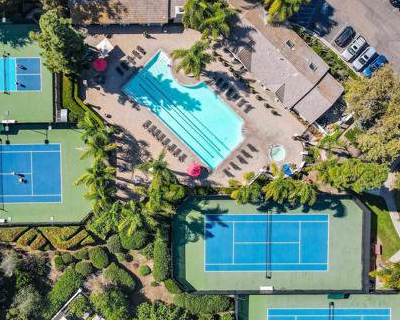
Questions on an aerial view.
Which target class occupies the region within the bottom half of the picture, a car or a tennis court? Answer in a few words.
tennis court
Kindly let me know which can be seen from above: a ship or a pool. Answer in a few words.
pool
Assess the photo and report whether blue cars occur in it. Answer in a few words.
Yes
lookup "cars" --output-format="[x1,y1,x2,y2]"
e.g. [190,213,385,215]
[333,24,357,48]
[365,53,388,72]
[342,36,368,61]
[389,0,400,8]
[352,46,378,71]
